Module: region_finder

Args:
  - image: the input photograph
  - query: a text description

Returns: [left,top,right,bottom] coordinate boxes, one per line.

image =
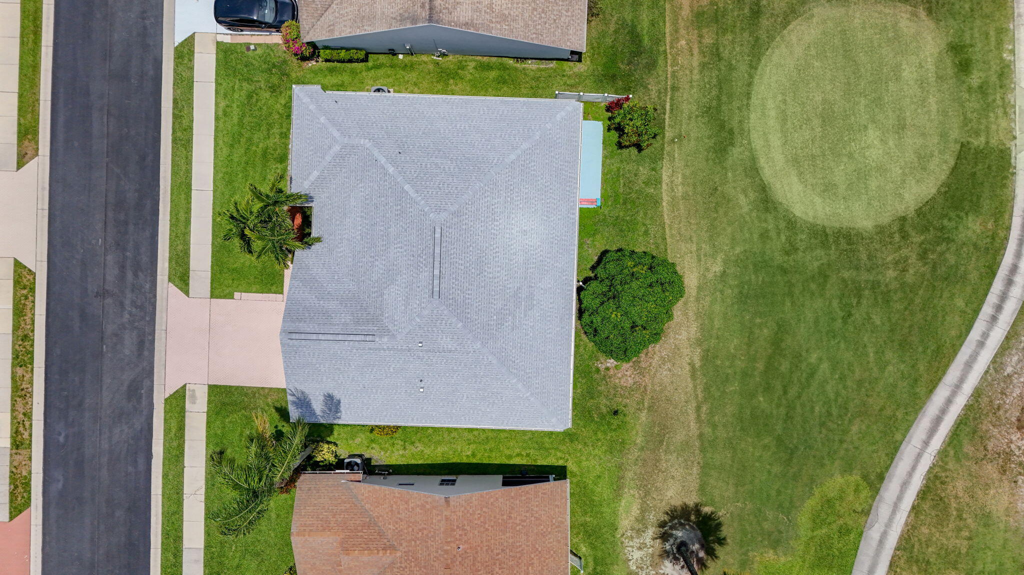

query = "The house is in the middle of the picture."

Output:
[280,84,583,431]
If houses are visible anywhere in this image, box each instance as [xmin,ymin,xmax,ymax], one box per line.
[296,0,589,59]
[280,84,583,431]
[291,468,570,575]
